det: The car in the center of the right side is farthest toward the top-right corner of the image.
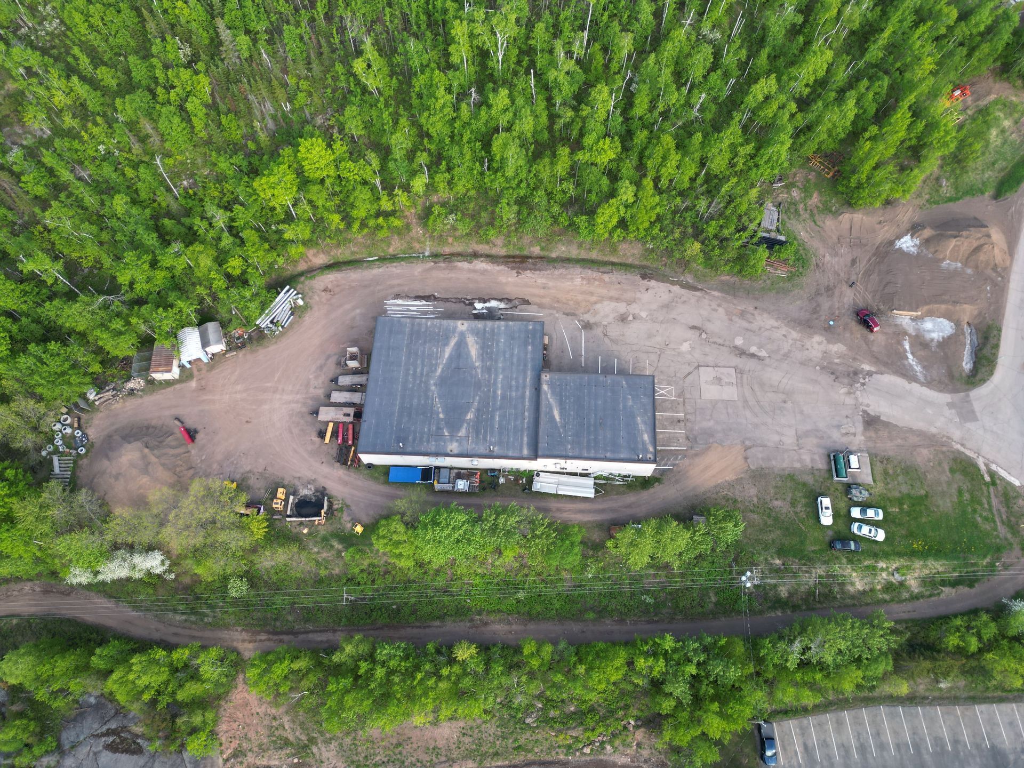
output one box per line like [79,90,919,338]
[855,308,881,334]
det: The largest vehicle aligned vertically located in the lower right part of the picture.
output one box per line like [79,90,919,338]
[758,723,781,764]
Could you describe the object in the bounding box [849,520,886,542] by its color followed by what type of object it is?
white car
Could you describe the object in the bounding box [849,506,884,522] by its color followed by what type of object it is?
white car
